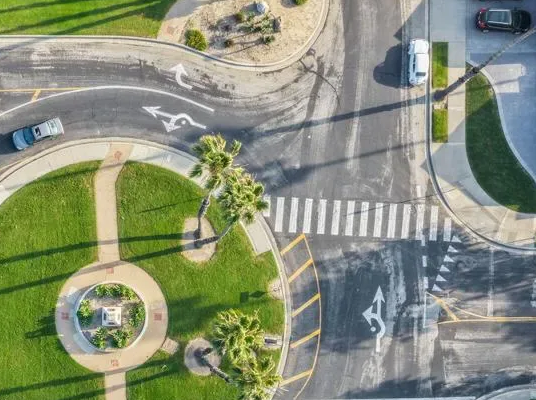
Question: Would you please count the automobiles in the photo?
3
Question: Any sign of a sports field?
No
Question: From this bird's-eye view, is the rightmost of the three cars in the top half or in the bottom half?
top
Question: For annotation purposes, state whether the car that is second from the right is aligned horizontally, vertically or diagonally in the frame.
vertically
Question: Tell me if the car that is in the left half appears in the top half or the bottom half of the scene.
top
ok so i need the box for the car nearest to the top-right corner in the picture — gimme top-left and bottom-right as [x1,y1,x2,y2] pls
[477,4,531,30]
